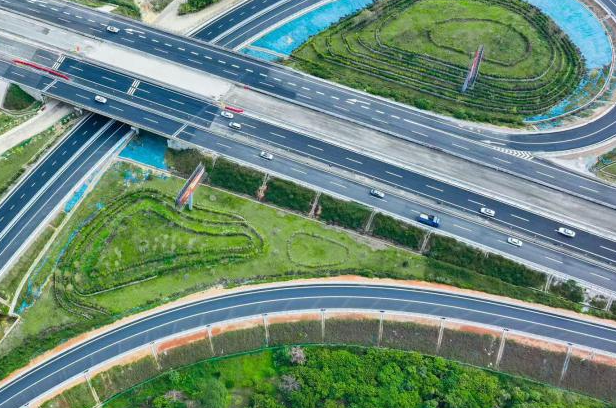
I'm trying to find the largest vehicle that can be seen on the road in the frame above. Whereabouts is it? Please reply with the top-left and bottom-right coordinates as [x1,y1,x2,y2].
[418,212,441,227]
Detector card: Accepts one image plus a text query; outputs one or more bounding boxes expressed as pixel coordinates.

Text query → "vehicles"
[220,111,234,119]
[418,212,441,227]
[259,151,273,159]
[106,26,118,33]
[371,189,384,198]
[558,227,574,237]
[506,237,522,246]
[228,121,242,129]
[479,207,495,217]
[93,95,107,103]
